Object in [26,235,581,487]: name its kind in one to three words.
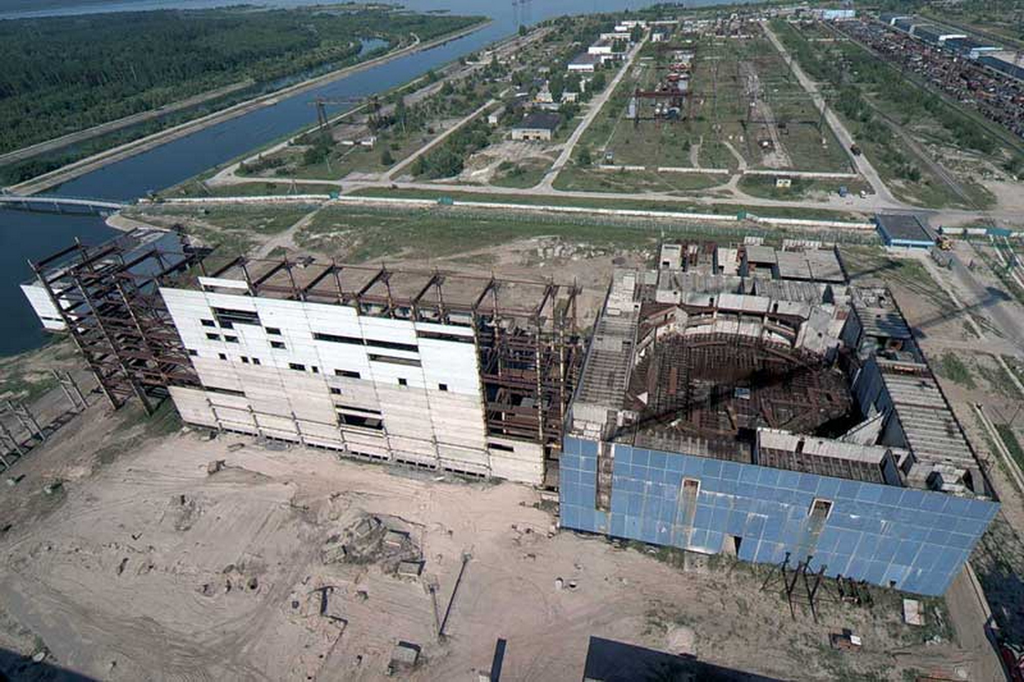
building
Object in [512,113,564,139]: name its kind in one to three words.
building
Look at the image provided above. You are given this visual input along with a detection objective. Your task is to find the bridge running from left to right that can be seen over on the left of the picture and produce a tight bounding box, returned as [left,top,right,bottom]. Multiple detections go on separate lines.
[0,192,130,215]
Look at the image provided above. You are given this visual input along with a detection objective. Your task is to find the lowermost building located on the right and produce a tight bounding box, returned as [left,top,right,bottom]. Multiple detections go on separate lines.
[563,266,999,594]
